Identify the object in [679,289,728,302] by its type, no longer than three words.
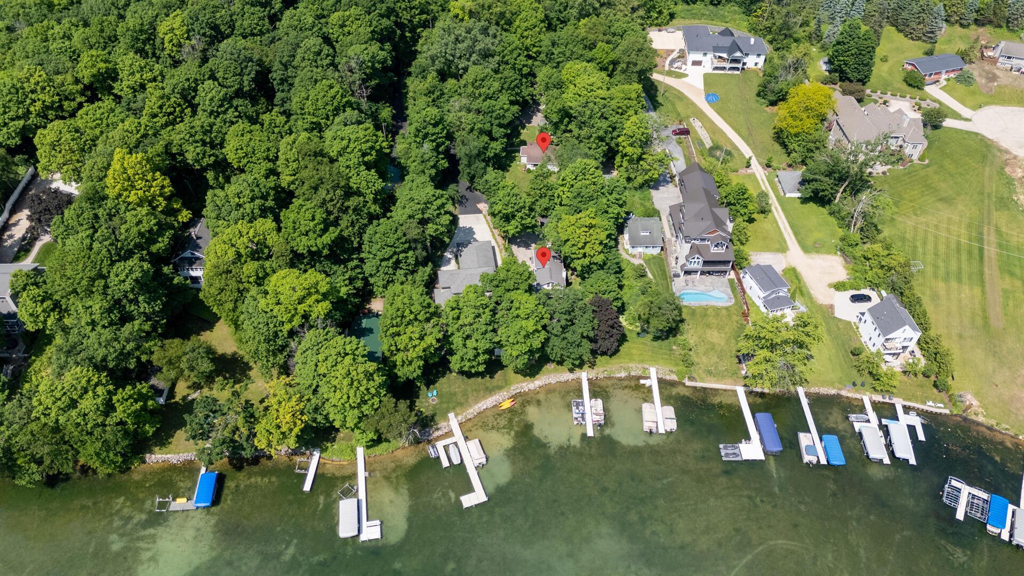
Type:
swimming pool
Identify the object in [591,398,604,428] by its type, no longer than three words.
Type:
boat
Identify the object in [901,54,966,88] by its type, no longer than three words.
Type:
house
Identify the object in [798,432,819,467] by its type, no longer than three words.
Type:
boat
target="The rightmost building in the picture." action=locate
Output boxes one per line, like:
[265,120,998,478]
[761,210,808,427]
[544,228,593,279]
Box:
[972,38,1024,77]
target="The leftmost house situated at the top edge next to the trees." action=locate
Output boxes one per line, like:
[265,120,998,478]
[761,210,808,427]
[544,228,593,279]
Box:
[679,21,767,77]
